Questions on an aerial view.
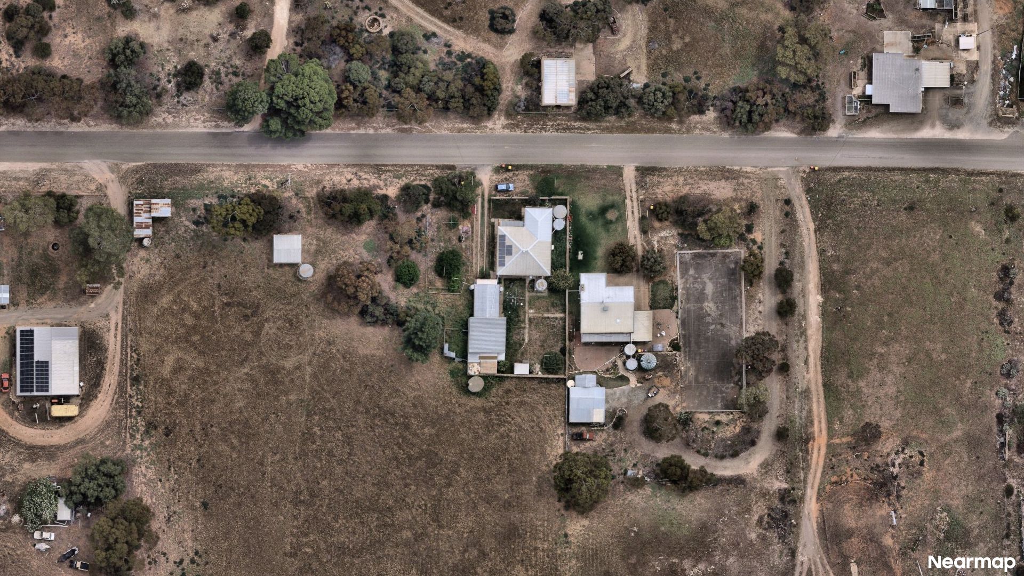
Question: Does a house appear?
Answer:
Yes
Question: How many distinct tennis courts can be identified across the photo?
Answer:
one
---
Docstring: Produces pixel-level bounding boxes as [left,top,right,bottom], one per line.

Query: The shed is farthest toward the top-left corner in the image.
[133,199,170,237]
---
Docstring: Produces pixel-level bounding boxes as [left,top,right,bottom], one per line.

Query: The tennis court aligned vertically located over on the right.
[678,251,744,411]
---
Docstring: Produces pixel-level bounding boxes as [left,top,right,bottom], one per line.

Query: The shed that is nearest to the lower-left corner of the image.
[56,497,70,521]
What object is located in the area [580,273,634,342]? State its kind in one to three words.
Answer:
house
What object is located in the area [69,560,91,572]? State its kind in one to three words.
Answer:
vehicle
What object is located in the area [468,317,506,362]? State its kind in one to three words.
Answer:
shed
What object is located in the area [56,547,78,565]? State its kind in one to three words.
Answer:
boat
